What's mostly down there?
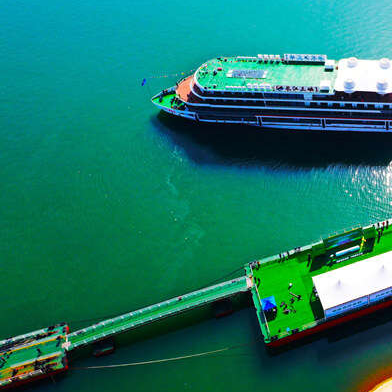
water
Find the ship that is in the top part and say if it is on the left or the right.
right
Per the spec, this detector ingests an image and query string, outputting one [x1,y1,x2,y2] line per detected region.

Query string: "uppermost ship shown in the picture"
[143,52,392,133]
